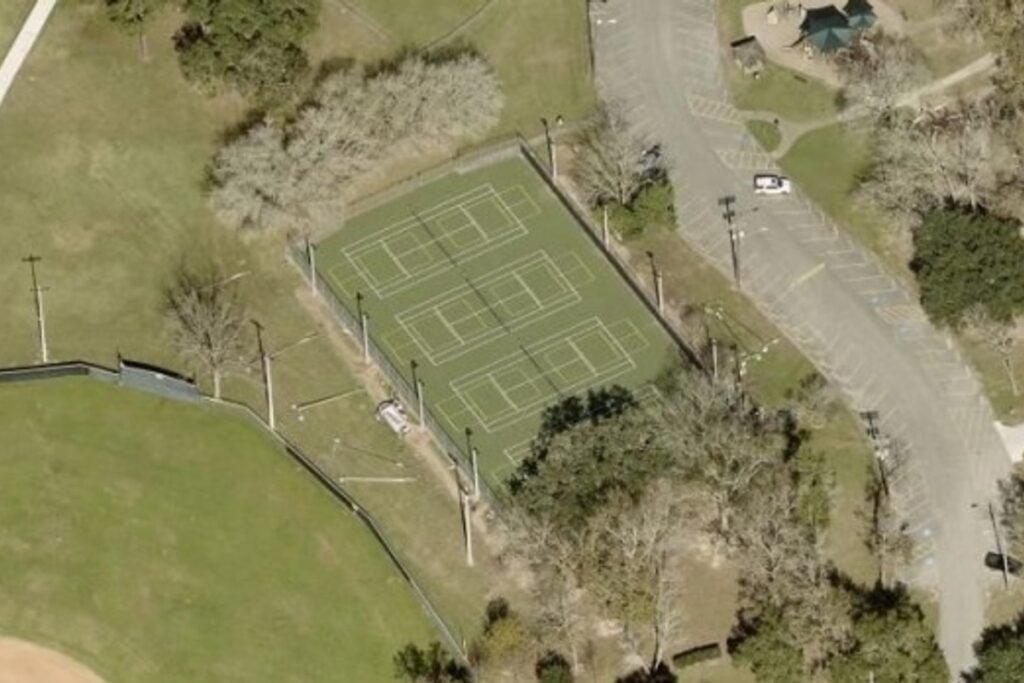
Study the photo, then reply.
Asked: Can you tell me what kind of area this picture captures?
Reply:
sports ground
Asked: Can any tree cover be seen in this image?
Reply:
Yes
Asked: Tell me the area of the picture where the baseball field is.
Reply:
bottom left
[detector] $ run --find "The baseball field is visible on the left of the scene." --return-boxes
[0,374,472,683]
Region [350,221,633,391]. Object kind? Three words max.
tennis court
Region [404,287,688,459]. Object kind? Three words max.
tennis court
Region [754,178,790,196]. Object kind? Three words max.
car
